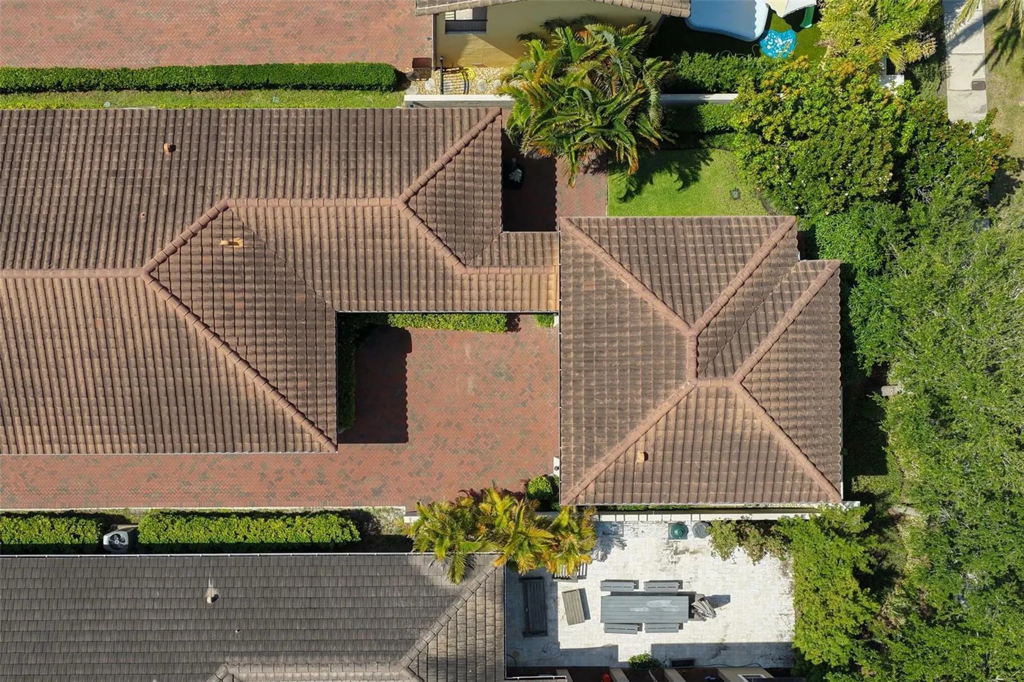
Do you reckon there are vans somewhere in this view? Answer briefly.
No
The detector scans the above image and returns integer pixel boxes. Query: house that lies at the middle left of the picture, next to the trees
[0,106,557,457]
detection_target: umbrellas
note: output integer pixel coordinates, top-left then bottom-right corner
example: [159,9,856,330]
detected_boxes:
[693,595,718,621]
